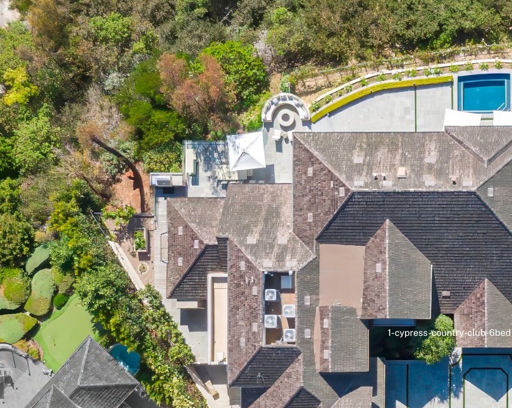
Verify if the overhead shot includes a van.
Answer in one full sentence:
No, this view has no van in it.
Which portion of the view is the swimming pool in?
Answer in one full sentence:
You can find the swimming pool in the top right area of the picture.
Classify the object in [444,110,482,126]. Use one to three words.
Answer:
umbrella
